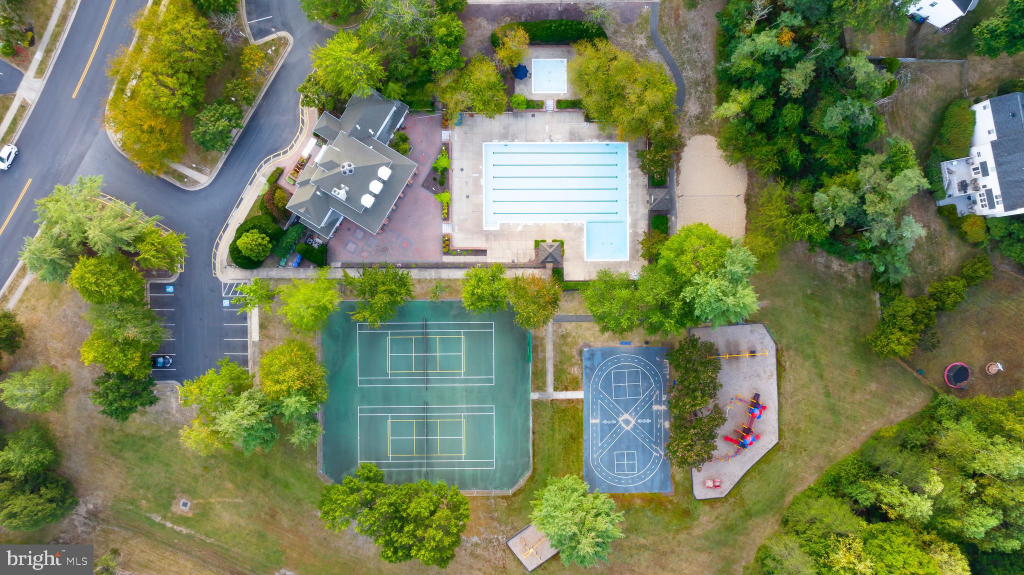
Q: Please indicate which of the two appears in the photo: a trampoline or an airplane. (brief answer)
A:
trampoline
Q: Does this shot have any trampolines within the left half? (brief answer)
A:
No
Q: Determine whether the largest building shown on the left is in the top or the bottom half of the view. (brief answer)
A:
top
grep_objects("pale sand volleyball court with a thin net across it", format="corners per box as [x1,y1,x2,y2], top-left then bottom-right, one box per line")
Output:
[677,135,747,249]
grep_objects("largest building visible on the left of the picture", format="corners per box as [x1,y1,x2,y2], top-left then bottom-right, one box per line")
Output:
[285,84,418,239]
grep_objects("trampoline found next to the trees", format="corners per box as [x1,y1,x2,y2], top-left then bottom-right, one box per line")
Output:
[945,362,975,389]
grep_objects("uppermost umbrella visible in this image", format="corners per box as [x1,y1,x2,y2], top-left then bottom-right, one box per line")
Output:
[513,64,529,80]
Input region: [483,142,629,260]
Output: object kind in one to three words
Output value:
swimming pool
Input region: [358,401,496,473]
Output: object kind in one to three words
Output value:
tennis court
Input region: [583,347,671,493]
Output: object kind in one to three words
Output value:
sports court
